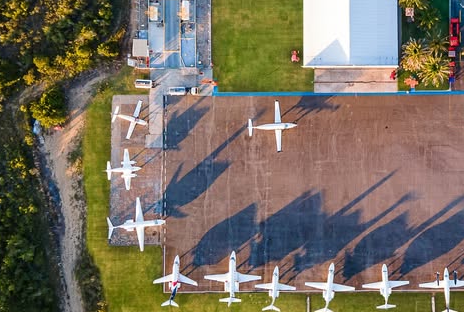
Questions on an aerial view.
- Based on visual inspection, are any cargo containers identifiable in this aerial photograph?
No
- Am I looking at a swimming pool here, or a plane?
plane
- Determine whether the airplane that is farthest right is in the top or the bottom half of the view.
bottom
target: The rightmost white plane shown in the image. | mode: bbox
[418,269,464,312]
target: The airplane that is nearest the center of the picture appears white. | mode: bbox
[248,100,298,153]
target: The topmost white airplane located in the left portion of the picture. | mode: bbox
[112,99,148,140]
